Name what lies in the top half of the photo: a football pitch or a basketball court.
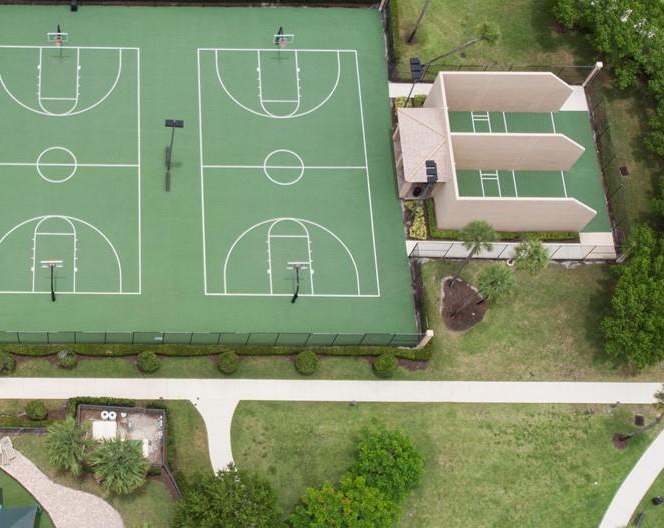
basketball court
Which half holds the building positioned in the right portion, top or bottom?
top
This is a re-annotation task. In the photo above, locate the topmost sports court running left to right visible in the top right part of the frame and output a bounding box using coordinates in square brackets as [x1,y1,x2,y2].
[448,111,602,171]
